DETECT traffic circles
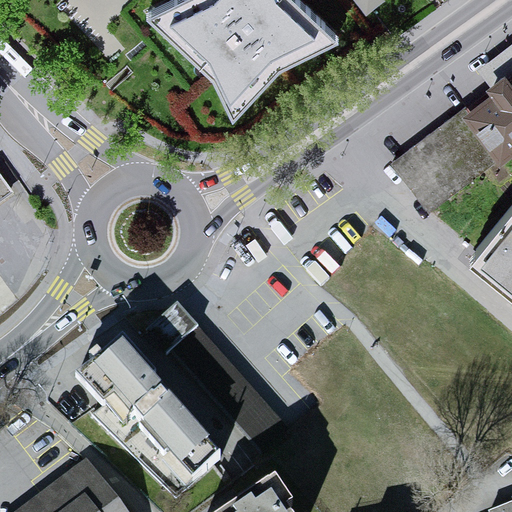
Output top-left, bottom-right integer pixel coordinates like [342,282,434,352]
[61,163,213,301]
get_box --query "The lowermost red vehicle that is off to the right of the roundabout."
[270,274,289,294]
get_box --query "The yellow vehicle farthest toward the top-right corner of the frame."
[338,219,360,243]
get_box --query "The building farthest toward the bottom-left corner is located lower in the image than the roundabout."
[12,457,130,512]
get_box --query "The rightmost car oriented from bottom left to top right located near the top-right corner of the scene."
[466,52,490,72]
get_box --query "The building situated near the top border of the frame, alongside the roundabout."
[144,0,340,126]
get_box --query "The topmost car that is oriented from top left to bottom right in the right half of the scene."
[443,83,462,106]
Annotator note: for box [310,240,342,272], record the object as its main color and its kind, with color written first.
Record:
white truck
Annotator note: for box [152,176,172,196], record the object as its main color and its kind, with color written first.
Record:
blue car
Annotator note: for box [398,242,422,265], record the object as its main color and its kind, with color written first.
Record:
white vehicle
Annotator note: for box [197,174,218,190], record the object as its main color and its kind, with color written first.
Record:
red car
